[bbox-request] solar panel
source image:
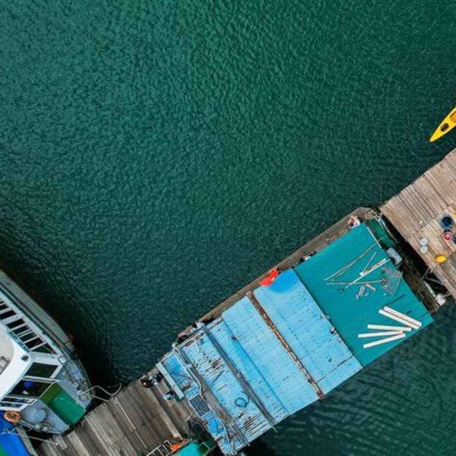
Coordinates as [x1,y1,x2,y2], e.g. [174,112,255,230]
[191,393,209,417]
